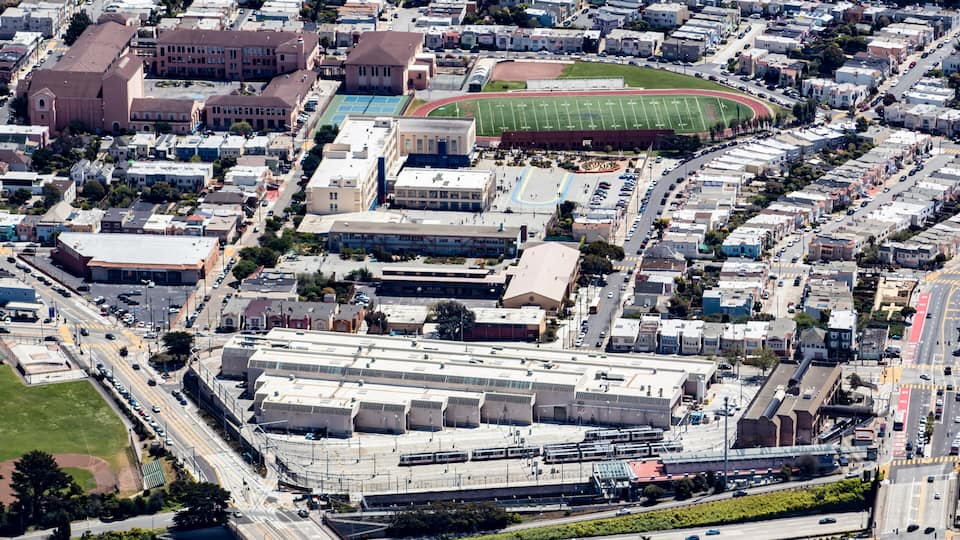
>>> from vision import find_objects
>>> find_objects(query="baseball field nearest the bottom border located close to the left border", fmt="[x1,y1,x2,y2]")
[0,363,138,497]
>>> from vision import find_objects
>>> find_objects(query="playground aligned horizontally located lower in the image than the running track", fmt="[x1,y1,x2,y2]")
[475,158,596,213]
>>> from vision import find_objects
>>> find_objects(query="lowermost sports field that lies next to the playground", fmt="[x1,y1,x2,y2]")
[430,97,750,135]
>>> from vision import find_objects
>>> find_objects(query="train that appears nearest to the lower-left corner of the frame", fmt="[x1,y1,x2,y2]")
[398,445,469,465]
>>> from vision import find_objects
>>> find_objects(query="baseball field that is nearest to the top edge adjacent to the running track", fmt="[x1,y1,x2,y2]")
[497,58,574,81]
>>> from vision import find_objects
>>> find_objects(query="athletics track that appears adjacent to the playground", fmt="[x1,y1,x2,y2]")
[407,90,774,142]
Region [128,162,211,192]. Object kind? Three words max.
house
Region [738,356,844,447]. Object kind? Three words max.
barn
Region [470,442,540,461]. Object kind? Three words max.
train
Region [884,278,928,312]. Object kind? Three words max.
building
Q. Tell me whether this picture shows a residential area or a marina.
residential area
